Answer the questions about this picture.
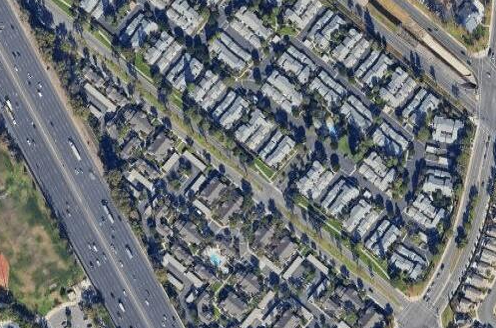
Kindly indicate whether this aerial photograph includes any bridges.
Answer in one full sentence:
No, no bridge can be seen from above.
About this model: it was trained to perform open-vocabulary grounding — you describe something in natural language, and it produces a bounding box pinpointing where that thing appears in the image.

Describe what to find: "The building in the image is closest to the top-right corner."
[463,0,485,31]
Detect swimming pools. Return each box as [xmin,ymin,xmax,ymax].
[206,246,225,266]
[326,114,339,137]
